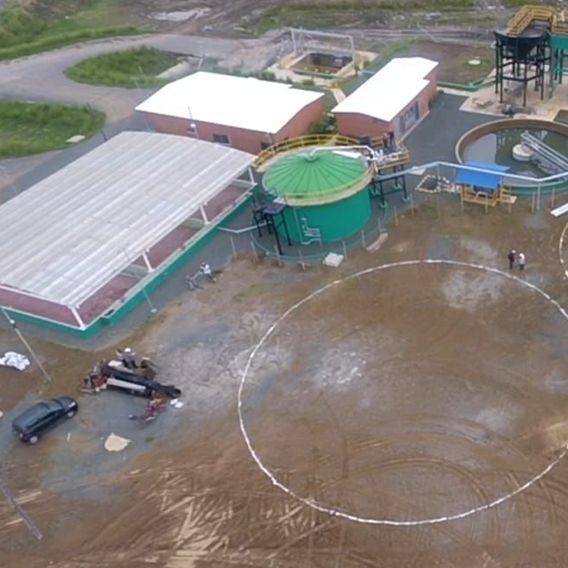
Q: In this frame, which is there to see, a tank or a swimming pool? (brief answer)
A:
tank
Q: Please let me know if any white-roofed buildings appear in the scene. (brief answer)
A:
Yes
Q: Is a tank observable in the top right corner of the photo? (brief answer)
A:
Yes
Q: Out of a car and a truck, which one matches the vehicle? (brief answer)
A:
car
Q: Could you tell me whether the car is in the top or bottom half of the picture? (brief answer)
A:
bottom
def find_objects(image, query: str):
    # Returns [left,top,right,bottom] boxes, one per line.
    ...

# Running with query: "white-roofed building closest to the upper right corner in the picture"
[333,57,443,145]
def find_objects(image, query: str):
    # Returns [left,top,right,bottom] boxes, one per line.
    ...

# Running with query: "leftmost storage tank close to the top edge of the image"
[494,24,549,105]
